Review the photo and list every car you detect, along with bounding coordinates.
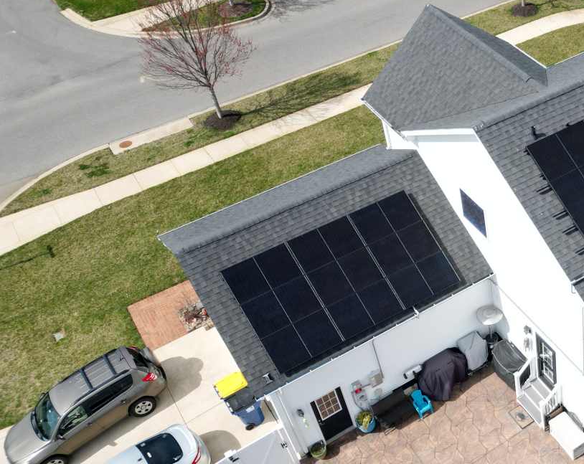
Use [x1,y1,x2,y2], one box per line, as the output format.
[82,421,211,464]
[0,341,173,464]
